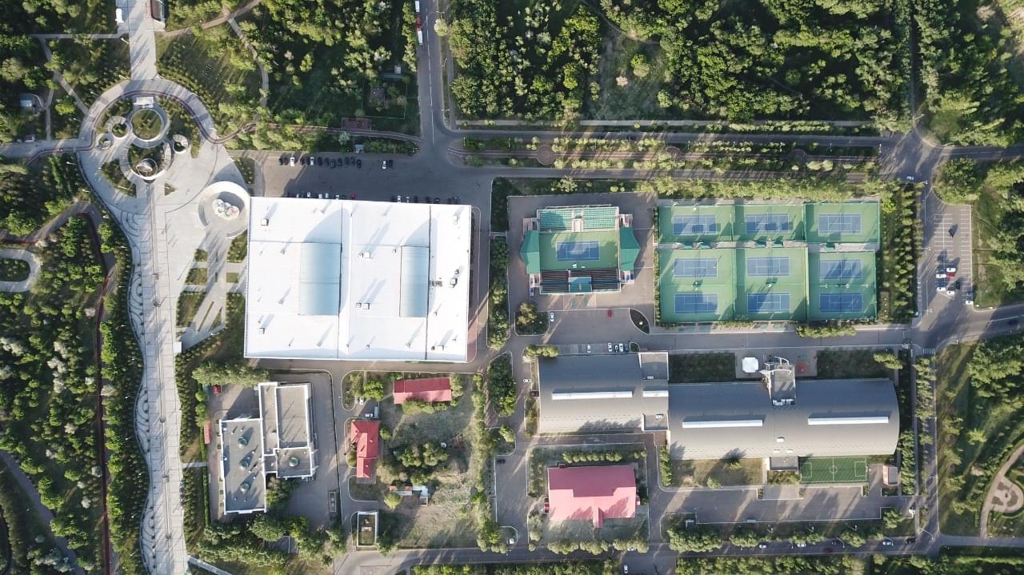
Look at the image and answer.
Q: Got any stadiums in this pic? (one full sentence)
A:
Yes, there is a stadium in the image.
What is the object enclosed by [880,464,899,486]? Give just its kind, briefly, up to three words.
building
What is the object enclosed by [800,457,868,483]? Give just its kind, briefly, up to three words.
soccer field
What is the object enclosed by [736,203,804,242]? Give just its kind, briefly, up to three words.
tennis court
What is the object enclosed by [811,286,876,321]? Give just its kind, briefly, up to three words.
tennis court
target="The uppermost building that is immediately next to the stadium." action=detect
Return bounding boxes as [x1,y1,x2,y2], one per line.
[245,196,472,363]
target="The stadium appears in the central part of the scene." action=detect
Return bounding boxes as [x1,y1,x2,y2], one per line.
[520,205,640,296]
